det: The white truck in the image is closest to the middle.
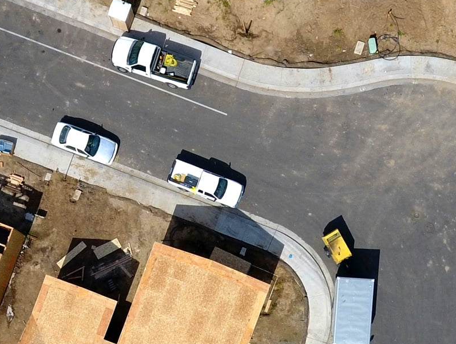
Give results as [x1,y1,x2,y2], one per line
[166,157,244,210]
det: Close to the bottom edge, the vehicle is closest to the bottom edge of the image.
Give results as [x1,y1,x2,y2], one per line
[330,276,374,344]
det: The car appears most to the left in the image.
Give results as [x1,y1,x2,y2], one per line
[48,121,121,166]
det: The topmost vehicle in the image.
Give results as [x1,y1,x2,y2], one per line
[111,36,198,89]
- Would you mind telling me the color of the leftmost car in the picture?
white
